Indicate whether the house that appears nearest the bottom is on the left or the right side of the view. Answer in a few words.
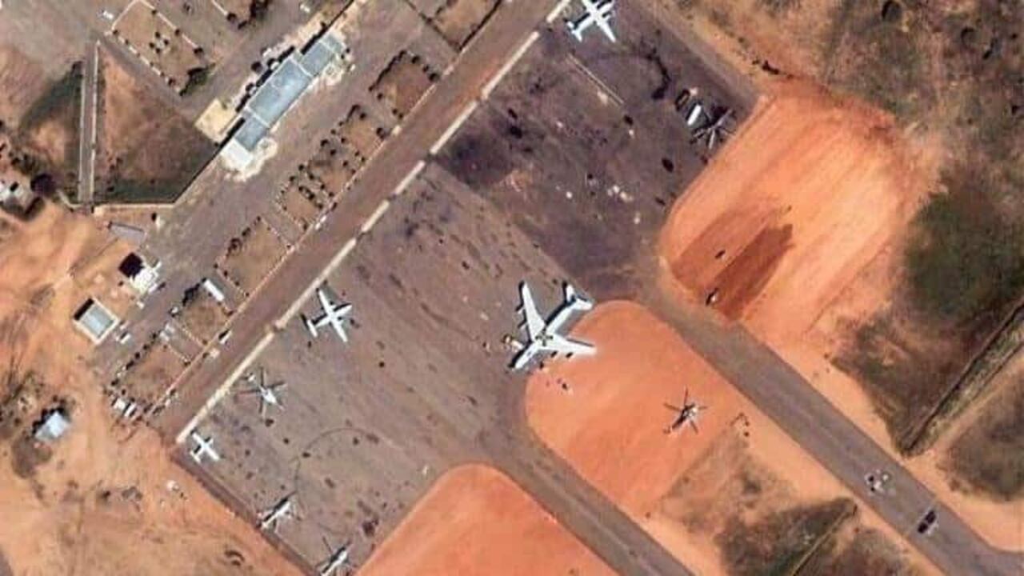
left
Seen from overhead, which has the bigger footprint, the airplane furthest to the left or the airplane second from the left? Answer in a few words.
the airplane second from the left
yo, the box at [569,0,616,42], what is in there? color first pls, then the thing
white airplane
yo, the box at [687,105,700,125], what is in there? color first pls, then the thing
white vehicle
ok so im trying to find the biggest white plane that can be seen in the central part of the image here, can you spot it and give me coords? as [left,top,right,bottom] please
[514,282,599,370]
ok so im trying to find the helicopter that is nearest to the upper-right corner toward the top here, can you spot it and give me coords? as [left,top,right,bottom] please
[694,110,735,148]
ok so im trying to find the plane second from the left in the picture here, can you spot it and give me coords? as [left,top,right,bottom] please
[309,291,352,341]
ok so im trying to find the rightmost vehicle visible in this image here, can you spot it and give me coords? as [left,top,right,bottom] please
[922,511,937,532]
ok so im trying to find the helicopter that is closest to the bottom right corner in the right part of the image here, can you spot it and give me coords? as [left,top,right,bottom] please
[670,393,710,432]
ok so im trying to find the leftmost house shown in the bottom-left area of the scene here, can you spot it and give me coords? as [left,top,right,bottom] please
[35,412,70,443]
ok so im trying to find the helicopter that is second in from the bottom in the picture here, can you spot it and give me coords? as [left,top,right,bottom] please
[259,492,300,531]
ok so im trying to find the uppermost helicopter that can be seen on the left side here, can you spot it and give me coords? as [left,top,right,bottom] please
[243,372,285,414]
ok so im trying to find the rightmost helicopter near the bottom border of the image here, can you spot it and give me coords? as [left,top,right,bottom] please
[318,542,358,576]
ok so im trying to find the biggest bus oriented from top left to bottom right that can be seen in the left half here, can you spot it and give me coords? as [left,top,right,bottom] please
[203,280,223,301]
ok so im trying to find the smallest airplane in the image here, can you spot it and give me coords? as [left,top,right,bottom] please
[190,433,218,462]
